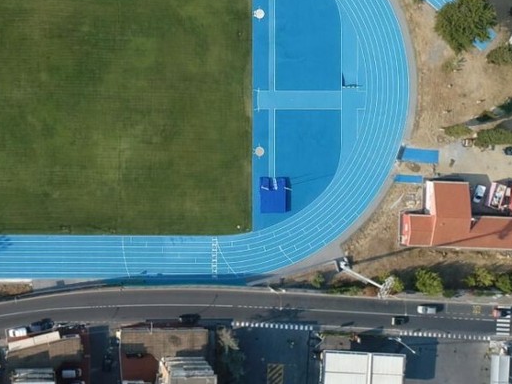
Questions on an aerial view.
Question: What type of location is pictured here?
sports ground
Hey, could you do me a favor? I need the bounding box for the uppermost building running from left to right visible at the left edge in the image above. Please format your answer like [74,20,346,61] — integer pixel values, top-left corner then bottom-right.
[7,331,84,371]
